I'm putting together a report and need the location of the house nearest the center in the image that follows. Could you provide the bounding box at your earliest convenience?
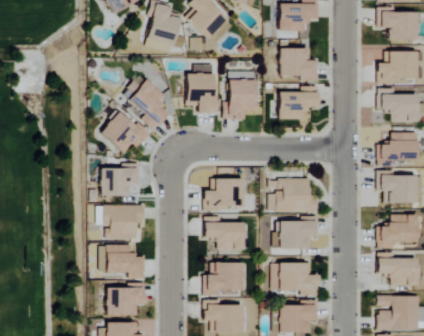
[202,178,243,210]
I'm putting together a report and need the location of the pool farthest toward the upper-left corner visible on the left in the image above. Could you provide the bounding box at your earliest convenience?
[94,28,115,40]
